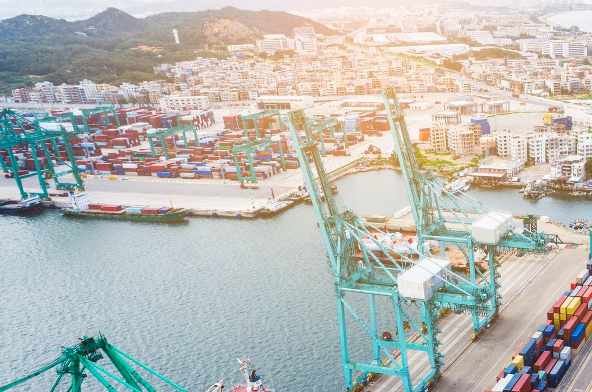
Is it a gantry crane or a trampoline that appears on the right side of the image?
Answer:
gantry crane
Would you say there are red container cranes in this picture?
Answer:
No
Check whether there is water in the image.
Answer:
Yes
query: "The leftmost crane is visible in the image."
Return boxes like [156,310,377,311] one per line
[0,114,31,196]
